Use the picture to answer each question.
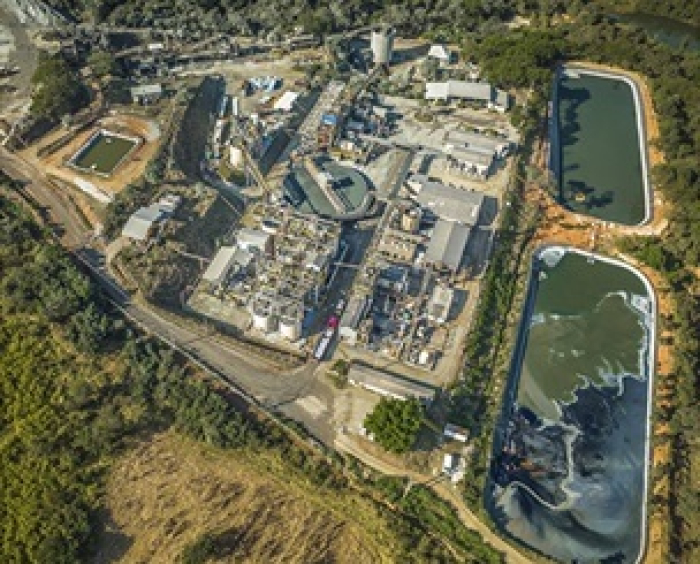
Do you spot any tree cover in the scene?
Yes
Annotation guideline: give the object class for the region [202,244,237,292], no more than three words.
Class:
building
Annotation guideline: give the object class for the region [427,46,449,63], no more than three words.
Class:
house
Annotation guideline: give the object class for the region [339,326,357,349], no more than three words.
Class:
building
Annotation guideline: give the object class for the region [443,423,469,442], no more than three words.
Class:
shed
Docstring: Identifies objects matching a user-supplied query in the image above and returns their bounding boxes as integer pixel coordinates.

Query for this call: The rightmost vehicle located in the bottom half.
[452,461,465,481]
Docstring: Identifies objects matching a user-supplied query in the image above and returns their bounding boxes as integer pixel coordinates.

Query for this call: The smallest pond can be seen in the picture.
[67,130,142,177]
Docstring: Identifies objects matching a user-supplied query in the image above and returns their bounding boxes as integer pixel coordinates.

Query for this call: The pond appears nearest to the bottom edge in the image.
[485,244,658,564]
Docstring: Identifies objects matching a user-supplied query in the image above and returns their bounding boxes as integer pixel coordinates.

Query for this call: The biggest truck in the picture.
[315,312,341,360]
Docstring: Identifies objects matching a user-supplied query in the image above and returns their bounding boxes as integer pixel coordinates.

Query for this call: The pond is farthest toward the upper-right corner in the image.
[549,61,652,230]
